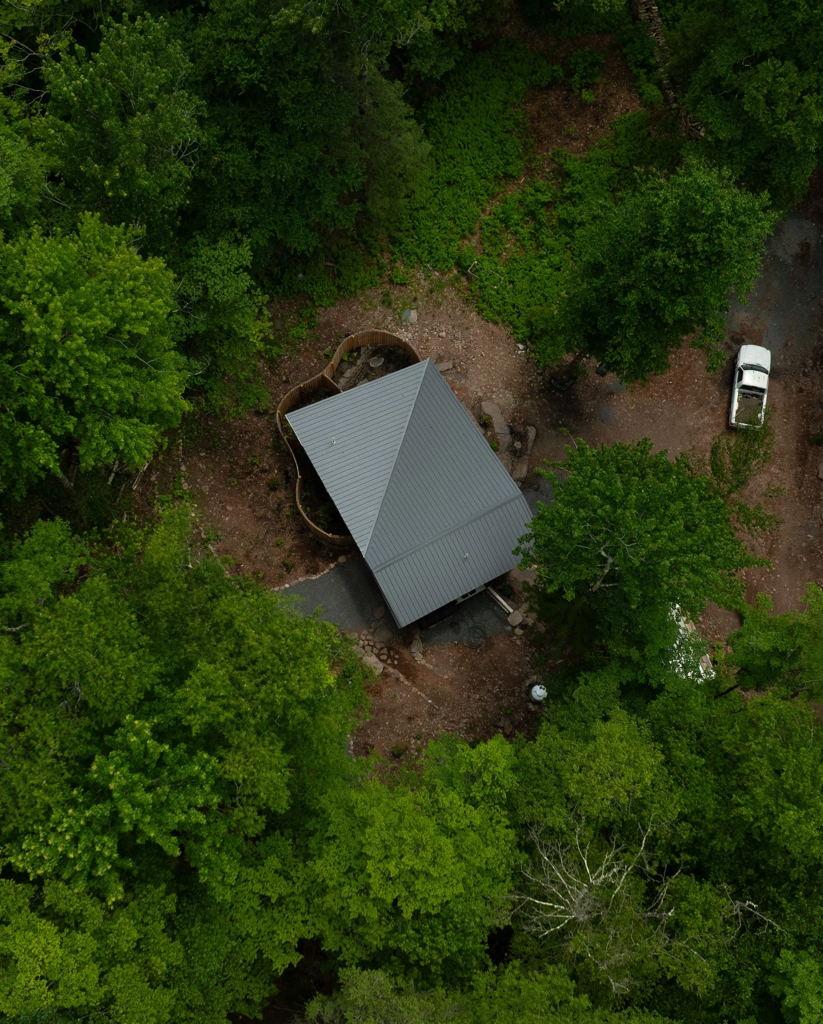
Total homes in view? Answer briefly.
1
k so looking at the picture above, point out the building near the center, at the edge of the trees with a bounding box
[287,357,548,629]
